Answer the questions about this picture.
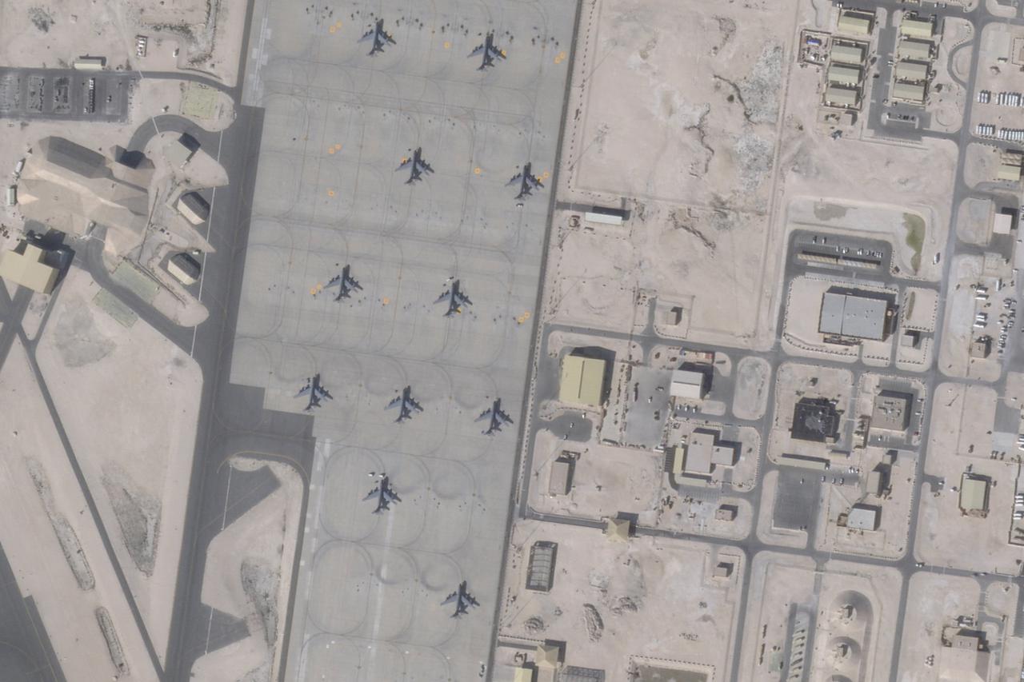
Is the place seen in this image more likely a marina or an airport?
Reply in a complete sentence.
The area seen from above is an airport.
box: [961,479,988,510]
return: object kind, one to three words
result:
house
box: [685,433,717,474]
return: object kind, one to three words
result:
building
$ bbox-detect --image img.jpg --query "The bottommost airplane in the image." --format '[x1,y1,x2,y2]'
[441,585,474,619]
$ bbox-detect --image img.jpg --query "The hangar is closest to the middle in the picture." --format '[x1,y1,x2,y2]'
[557,354,610,407]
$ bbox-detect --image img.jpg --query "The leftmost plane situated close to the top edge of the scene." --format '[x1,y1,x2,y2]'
[359,21,391,54]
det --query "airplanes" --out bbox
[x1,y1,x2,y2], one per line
[468,38,501,71]
[441,585,474,619]
[474,402,508,435]
[363,480,396,514]
[505,166,538,199]
[434,283,466,316]
[395,150,428,183]
[325,268,357,302]
[359,21,391,54]
[385,389,418,423]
